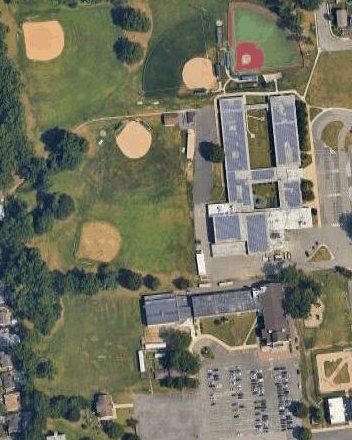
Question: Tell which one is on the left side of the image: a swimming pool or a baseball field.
baseball field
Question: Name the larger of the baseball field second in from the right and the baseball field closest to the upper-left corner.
the baseball field second in from the right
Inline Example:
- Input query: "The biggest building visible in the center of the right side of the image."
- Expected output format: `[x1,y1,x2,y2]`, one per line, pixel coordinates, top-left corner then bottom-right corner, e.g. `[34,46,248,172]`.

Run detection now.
[209,95,314,258]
